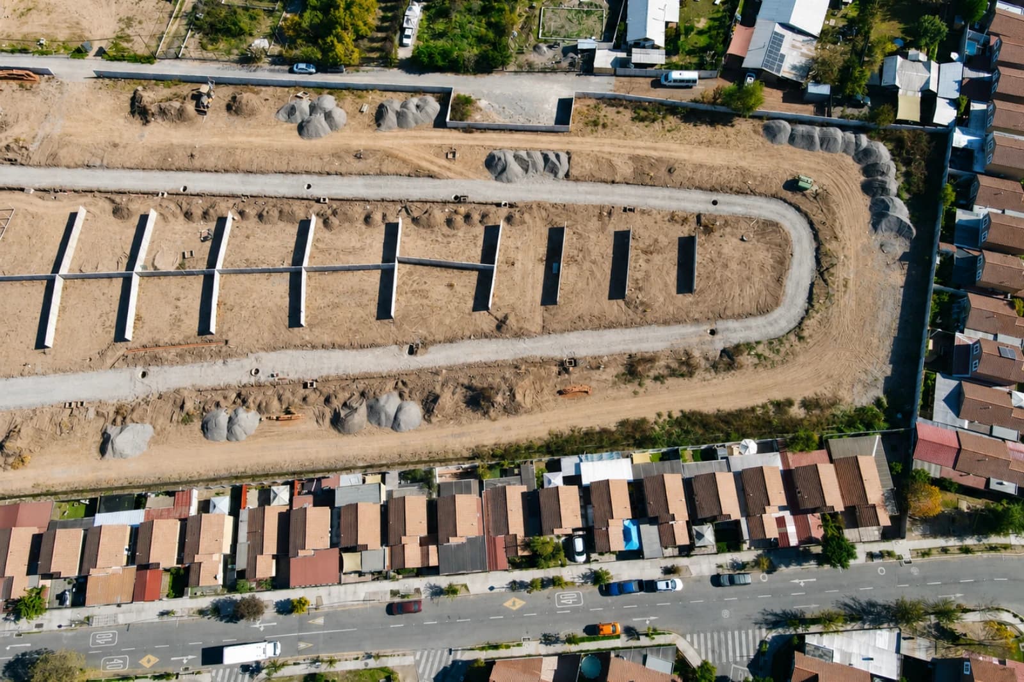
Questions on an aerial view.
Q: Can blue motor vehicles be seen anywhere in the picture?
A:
Yes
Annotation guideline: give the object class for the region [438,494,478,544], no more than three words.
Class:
house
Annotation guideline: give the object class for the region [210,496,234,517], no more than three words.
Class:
gazebo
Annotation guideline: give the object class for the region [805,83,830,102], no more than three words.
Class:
shed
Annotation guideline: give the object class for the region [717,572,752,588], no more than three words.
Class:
car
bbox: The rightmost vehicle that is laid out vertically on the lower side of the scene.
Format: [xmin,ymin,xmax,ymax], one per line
[572,534,586,564]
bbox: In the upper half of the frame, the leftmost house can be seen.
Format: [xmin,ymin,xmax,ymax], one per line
[627,0,665,53]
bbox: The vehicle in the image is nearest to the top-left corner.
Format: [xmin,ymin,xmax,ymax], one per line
[196,80,215,114]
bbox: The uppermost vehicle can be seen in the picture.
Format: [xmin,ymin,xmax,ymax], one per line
[402,26,414,46]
